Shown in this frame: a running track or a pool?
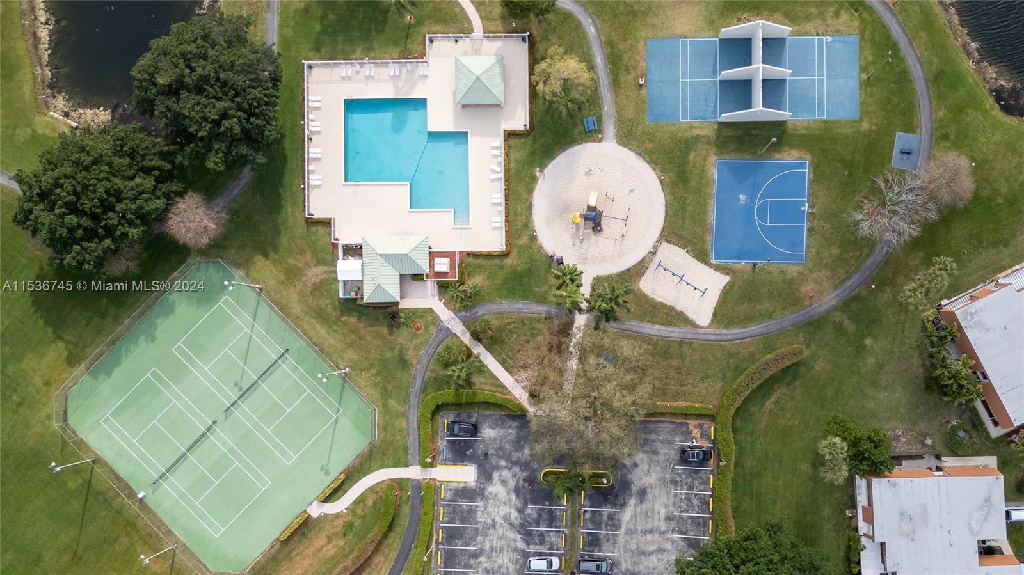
pool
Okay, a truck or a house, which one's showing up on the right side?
house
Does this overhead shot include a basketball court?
Yes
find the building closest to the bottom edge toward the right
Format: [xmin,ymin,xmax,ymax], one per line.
[856,470,1024,575]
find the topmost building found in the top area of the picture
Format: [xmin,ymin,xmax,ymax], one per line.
[455,54,505,109]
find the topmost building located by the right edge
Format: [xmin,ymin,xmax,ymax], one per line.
[934,264,1024,427]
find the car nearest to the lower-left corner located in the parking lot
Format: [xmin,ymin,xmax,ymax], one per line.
[445,421,478,438]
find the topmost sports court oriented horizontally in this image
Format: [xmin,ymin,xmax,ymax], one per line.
[647,34,859,122]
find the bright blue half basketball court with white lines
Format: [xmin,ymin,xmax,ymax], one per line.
[711,159,810,263]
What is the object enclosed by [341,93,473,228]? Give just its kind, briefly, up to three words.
swimming pool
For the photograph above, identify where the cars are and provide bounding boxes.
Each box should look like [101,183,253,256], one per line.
[1006,507,1024,525]
[578,559,614,575]
[445,421,478,438]
[527,557,561,575]
[680,448,713,465]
